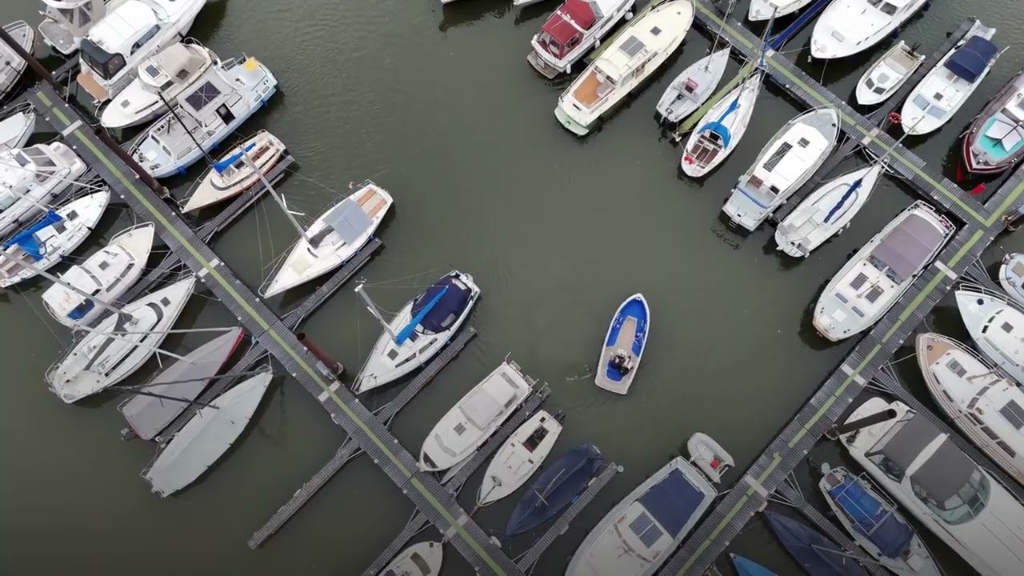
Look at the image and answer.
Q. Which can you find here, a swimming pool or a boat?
boat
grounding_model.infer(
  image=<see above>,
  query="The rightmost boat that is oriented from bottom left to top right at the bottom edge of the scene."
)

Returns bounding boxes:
[564,454,731,576]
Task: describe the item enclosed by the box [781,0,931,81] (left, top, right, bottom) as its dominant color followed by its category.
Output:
white boat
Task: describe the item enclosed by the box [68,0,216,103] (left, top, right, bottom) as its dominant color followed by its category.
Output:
white boat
